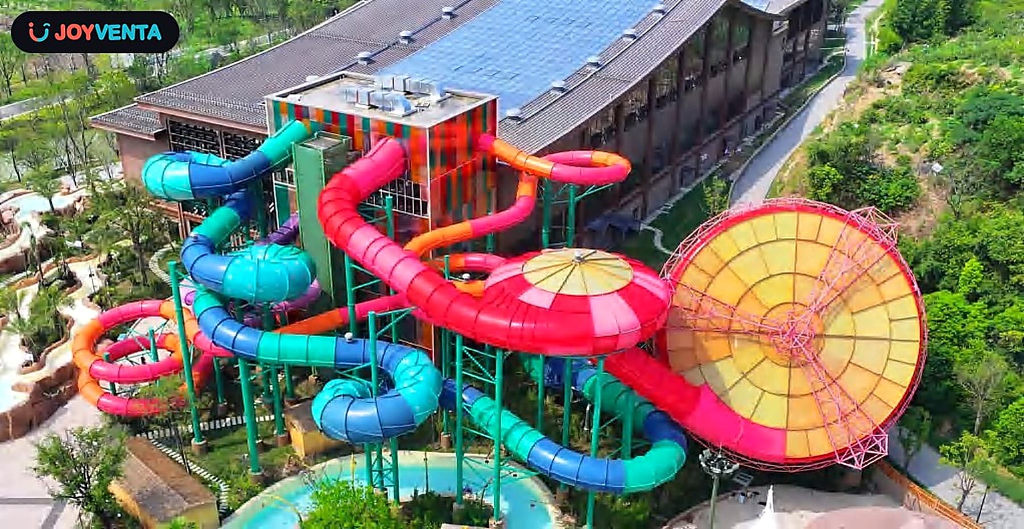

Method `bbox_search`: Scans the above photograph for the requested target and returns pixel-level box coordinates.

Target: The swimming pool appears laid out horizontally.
[247,461,545,529]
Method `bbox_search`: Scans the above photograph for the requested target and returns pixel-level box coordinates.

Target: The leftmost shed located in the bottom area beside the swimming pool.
[102,442,220,529]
